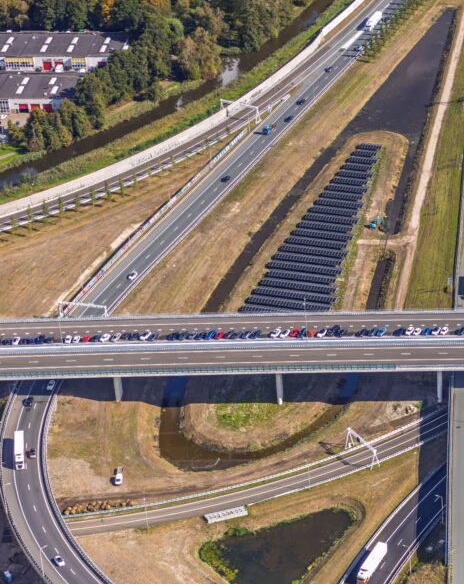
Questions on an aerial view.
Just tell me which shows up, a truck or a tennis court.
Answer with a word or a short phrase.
truck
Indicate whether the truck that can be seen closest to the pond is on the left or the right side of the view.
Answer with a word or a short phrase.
right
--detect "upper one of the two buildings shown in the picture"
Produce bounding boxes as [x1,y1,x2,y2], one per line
[0,31,131,71]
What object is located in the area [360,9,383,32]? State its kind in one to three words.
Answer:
truck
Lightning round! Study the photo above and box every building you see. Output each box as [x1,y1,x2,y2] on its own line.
[0,31,131,71]
[0,72,85,114]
